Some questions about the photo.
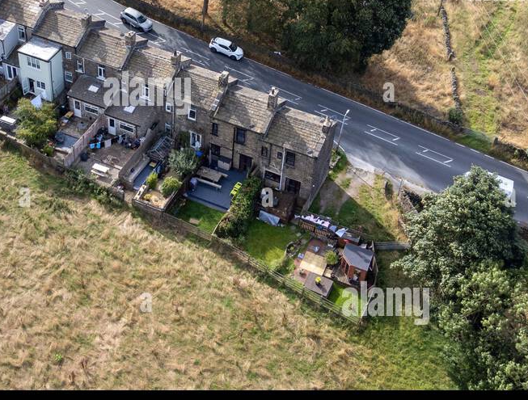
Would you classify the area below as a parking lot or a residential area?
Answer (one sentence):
The area seen from above is a residential area.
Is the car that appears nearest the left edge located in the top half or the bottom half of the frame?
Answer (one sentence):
The car that appears nearest the left edge is in the top half of the image.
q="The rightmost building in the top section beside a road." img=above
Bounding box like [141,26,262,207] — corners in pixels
[259,105,339,205]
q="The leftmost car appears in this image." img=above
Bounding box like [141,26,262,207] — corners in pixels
[122,7,155,33]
